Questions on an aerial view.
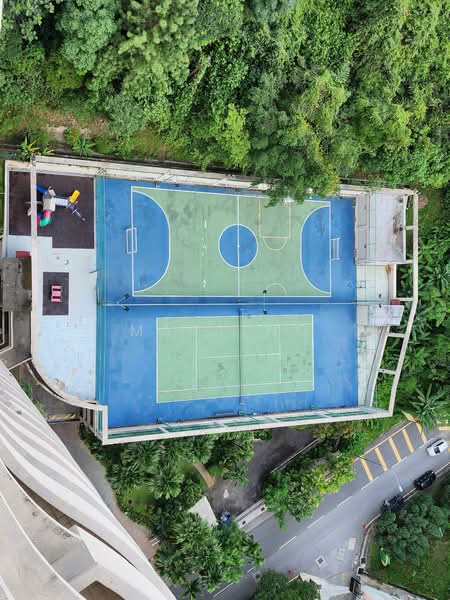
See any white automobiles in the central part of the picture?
No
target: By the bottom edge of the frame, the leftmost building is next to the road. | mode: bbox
[0,360,176,600]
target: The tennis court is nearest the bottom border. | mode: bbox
[101,302,359,428]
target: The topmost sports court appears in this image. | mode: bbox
[101,179,358,303]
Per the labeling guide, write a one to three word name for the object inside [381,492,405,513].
car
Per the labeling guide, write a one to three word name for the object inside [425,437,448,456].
car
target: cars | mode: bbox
[381,492,405,513]
[412,470,435,490]
[425,437,448,456]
